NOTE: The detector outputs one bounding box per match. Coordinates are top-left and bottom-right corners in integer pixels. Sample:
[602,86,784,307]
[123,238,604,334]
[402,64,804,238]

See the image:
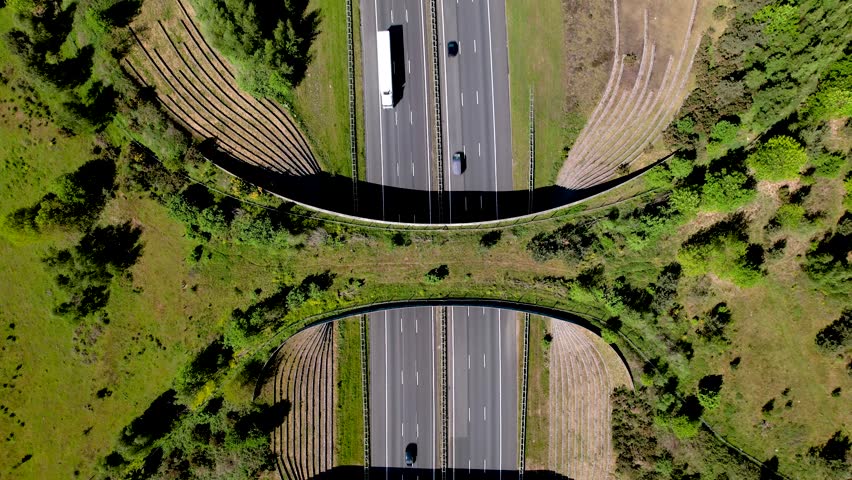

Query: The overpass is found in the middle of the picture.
[191,147,677,401]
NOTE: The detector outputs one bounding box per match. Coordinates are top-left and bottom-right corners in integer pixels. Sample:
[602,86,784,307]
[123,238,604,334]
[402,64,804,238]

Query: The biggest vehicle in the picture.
[378,32,394,110]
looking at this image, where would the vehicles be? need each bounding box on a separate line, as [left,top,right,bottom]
[448,41,456,58]
[452,154,461,176]
[404,446,414,466]
[378,32,394,110]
